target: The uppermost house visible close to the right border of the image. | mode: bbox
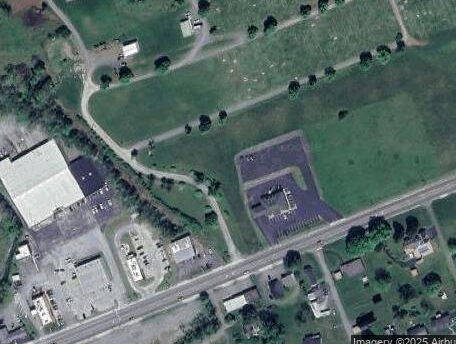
[403,228,438,258]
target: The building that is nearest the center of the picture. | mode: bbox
[267,190,293,218]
